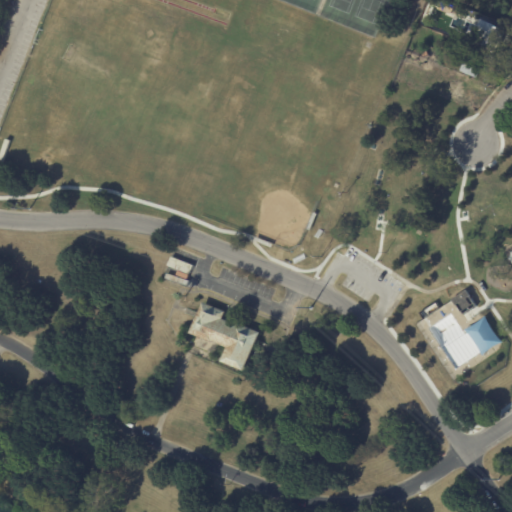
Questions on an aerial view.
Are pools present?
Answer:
Yes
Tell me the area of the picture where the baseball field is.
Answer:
center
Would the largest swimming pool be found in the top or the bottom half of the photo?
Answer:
bottom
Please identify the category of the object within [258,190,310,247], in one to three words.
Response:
baseball field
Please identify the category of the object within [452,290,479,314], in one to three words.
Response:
building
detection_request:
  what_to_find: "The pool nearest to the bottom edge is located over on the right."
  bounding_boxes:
[418,302,504,380]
